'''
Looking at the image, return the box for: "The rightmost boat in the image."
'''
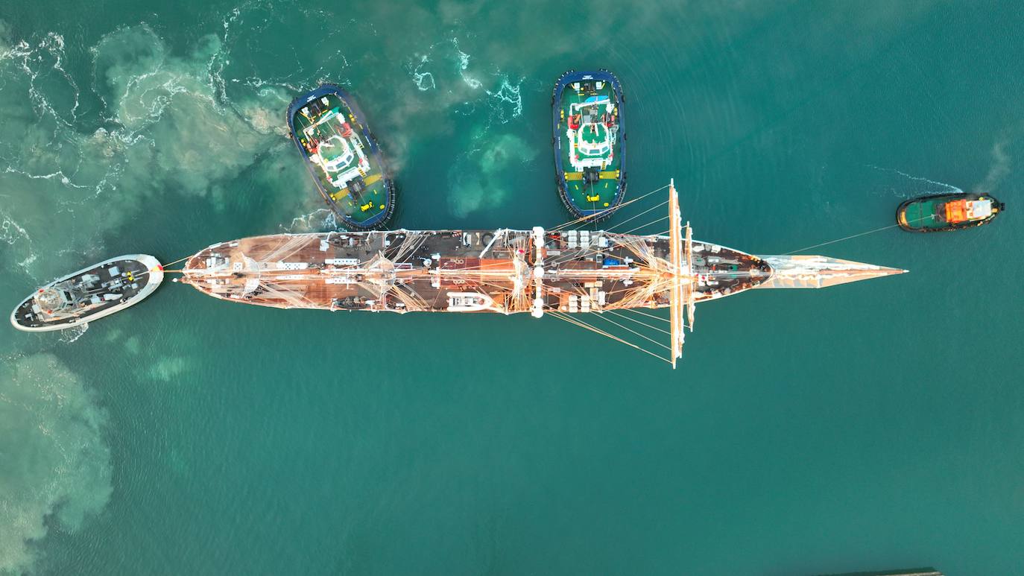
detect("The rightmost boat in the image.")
[894,192,1007,233]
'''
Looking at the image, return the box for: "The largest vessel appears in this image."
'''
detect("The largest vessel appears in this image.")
[173,180,908,368]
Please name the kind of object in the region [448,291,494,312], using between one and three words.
boat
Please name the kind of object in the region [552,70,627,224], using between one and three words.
boat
